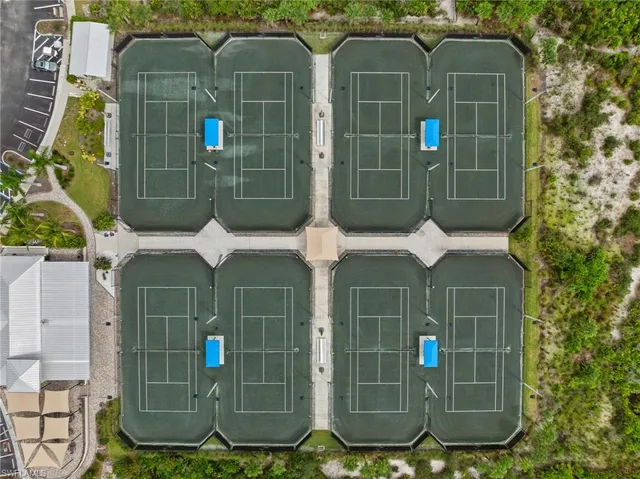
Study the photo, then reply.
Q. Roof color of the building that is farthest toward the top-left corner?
white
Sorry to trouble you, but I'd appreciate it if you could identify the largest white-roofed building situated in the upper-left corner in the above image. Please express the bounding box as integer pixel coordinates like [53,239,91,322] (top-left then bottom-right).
[69,21,114,80]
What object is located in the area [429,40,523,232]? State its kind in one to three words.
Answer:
tennis court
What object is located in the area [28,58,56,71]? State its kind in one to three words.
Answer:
vehicle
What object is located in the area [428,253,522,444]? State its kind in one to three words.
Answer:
tennis court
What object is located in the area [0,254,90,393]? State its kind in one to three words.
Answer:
building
